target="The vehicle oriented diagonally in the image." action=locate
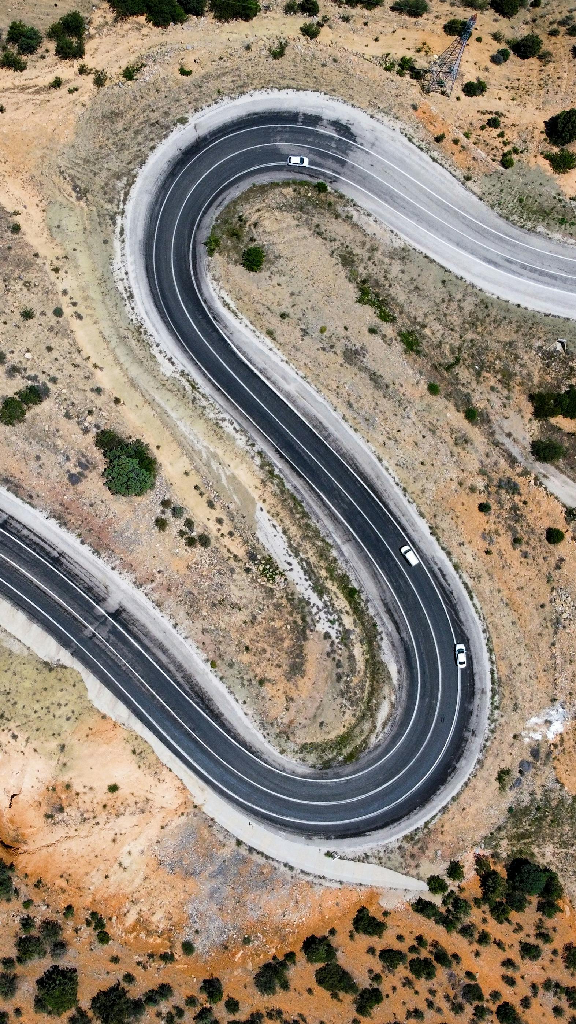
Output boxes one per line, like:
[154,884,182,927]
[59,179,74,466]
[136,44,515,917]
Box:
[400,543,418,567]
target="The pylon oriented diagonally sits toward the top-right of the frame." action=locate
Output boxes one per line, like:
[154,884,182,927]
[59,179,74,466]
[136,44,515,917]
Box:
[416,11,481,103]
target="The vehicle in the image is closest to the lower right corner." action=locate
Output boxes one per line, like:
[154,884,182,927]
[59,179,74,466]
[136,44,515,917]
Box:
[454,643,466,668]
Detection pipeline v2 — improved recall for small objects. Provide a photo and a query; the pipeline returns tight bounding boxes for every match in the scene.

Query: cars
[454,643,466,668]
[286,155,308,166]
[400,543,418,567]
